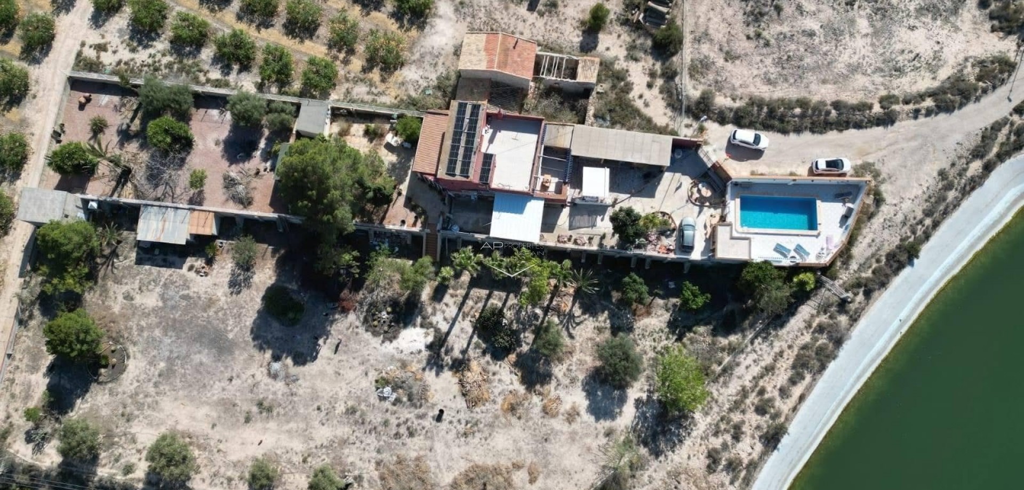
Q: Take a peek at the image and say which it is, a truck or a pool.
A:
pool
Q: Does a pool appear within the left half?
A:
No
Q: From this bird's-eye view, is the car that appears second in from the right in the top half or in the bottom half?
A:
top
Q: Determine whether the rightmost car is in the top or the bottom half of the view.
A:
top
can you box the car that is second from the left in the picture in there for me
[729,130,768,152]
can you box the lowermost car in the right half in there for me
[677,217,697,253]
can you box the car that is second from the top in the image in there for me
[811,156,850,176]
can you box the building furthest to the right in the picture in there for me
[714,223,753,261]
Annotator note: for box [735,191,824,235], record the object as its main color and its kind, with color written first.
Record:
blue swimming pool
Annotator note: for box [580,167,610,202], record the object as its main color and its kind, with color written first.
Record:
white gazebo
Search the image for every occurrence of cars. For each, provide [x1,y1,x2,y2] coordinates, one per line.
[729,130,768,152]
[811,156,850,176]
[677,217,697,253]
